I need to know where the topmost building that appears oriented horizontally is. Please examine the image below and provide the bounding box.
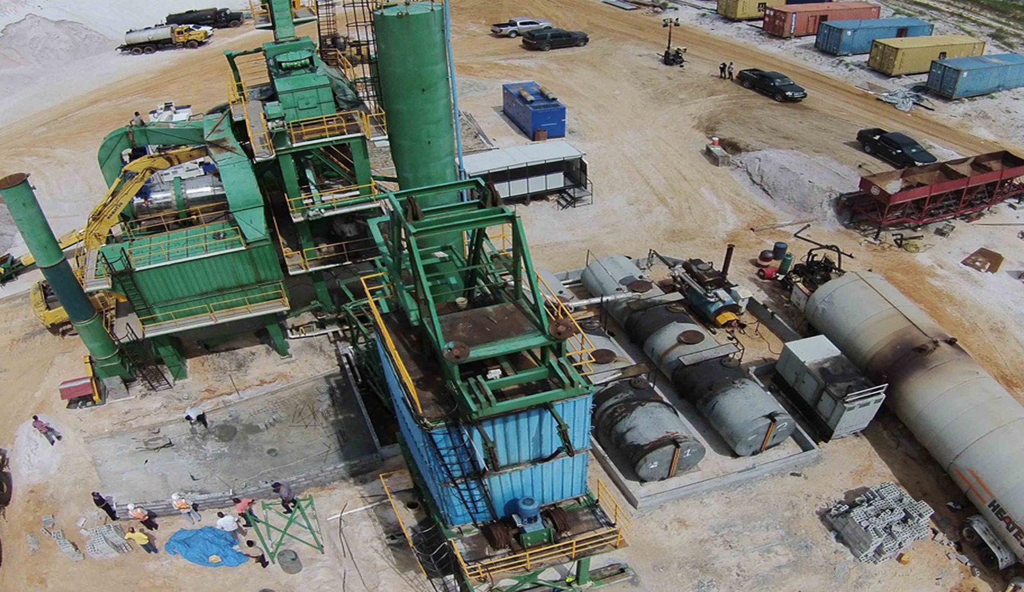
[456,136,597,204]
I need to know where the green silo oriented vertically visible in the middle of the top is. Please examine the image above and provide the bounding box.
[346,0,467,261]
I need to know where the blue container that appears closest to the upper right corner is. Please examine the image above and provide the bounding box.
[927,43,1024,99]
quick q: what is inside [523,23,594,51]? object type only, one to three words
car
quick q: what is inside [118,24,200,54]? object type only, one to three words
truck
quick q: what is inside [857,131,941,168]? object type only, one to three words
truck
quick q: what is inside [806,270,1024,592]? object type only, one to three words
trailer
